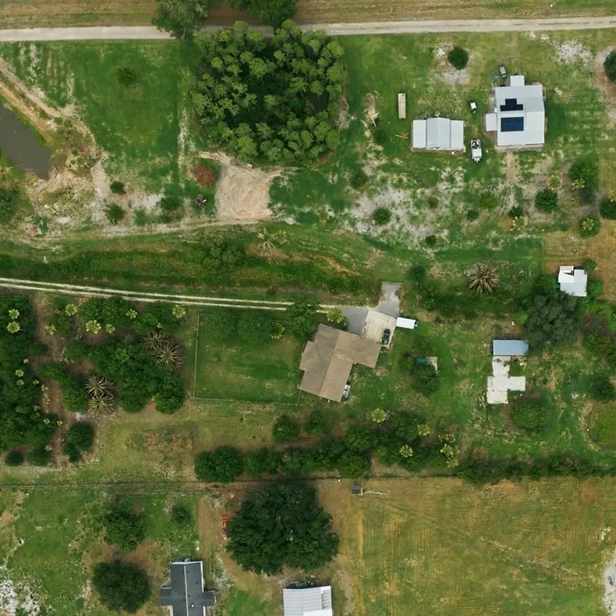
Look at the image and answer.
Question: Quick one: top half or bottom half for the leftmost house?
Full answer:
The bottom half of the photo is where the leftmost house is.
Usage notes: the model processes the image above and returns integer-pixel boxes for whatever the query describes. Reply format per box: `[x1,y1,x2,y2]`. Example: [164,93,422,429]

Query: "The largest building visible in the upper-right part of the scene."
[485,75,544,152]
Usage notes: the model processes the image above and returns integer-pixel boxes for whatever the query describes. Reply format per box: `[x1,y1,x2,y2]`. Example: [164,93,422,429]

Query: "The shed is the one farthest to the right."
[558,266,587,296]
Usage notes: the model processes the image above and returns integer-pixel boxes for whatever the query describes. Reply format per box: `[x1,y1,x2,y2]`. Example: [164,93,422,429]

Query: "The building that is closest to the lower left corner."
[160,558,216,616]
